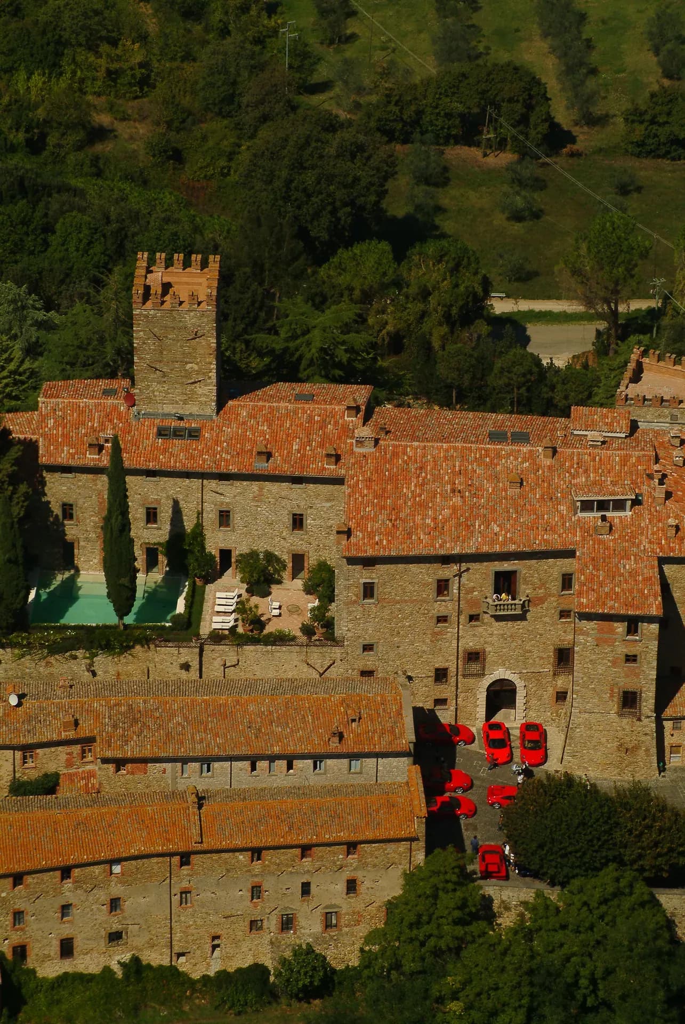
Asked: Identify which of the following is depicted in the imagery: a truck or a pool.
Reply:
pool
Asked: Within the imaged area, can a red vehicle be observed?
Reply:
Yes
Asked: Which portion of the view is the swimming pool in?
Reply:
left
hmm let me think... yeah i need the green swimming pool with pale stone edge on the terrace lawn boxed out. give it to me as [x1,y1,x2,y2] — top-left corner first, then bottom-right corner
[30,570,194,626]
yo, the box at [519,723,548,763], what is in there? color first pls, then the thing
red car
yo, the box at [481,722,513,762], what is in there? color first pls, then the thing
red car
